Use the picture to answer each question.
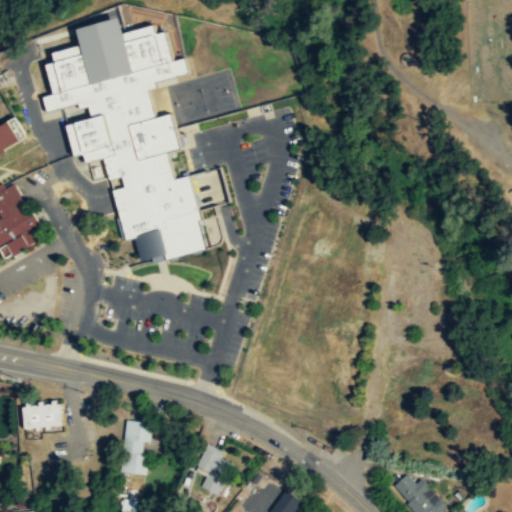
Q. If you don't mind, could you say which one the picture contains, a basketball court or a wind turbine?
basketball court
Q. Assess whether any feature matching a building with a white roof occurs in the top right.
No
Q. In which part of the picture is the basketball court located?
top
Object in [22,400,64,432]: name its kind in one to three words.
house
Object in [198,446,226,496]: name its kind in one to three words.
house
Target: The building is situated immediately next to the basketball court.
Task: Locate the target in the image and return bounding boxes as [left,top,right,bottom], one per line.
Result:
[42,18,206,262]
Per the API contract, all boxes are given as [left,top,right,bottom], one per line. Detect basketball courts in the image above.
[167,68,242,126]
